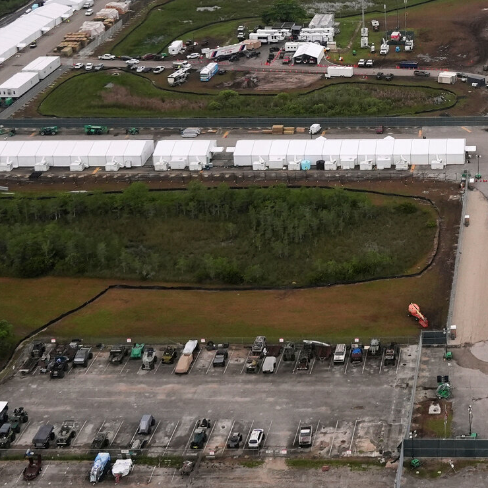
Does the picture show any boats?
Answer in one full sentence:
Yes, looking at the shot, I can spot a boat.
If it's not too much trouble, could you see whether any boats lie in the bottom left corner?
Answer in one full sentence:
Yes, a boat is visible in the bottom left corner.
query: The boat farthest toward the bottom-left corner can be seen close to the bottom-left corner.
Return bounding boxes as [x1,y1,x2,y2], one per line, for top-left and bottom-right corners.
[16,451,49,487]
